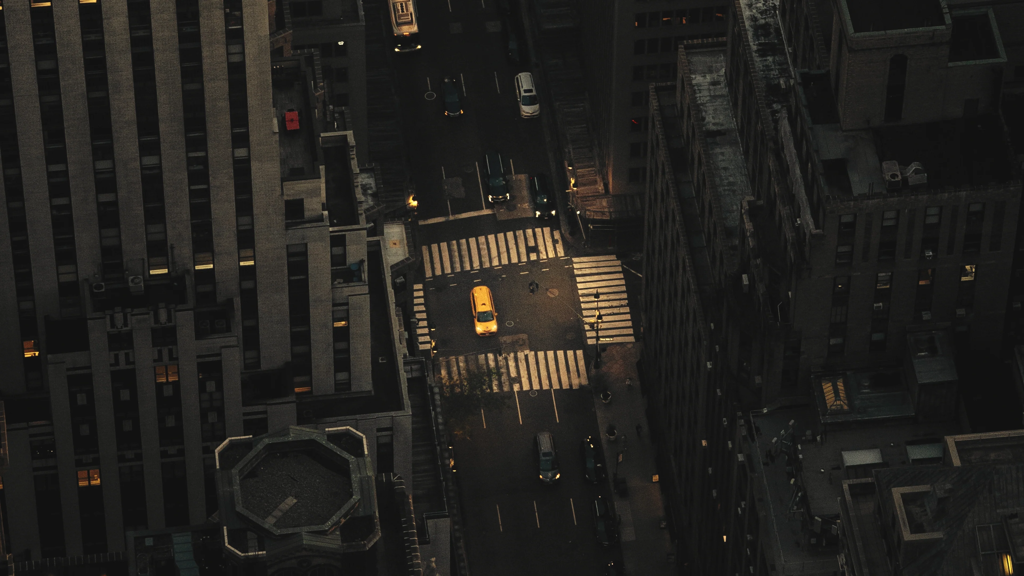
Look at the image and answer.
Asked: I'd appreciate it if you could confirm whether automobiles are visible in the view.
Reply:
Yes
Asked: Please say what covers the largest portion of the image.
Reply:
buildings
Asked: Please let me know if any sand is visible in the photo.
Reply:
No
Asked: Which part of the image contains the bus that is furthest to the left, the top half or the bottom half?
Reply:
top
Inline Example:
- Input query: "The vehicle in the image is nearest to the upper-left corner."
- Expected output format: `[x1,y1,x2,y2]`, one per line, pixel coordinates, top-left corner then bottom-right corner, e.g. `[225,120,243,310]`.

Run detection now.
[389,0,424,52]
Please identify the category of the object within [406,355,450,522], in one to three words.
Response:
shed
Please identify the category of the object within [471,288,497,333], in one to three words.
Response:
car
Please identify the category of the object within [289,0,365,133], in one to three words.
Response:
building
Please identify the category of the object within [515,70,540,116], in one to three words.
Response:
car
